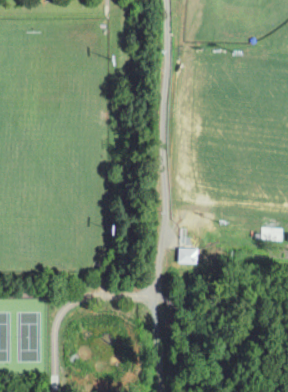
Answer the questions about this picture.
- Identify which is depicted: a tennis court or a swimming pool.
tennis court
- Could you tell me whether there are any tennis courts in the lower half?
Yes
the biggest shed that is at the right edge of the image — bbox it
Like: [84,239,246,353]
[261,227,284,242]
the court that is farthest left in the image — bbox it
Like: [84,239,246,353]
[0,312,12,362]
